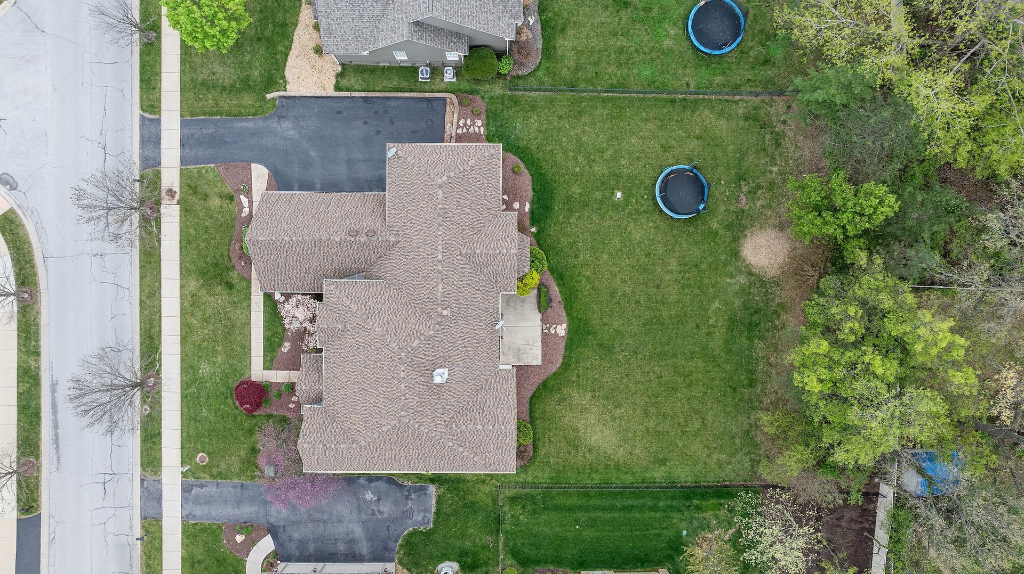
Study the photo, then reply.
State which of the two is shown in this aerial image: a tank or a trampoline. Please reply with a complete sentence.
Of the two, only a trampoline appears.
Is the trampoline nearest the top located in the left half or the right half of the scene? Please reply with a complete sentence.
You can find the trampoline nearest the top on the right side of the picture.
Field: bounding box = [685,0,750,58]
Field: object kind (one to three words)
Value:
trampoline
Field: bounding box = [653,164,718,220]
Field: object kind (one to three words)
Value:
trampoline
